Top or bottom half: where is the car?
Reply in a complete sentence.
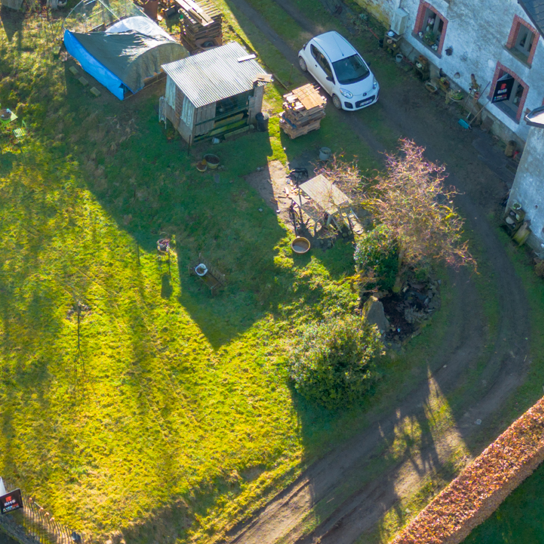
You can find the car in the top half.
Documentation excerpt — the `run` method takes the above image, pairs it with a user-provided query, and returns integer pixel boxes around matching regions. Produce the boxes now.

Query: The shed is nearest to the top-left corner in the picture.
[159,50,275,146]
